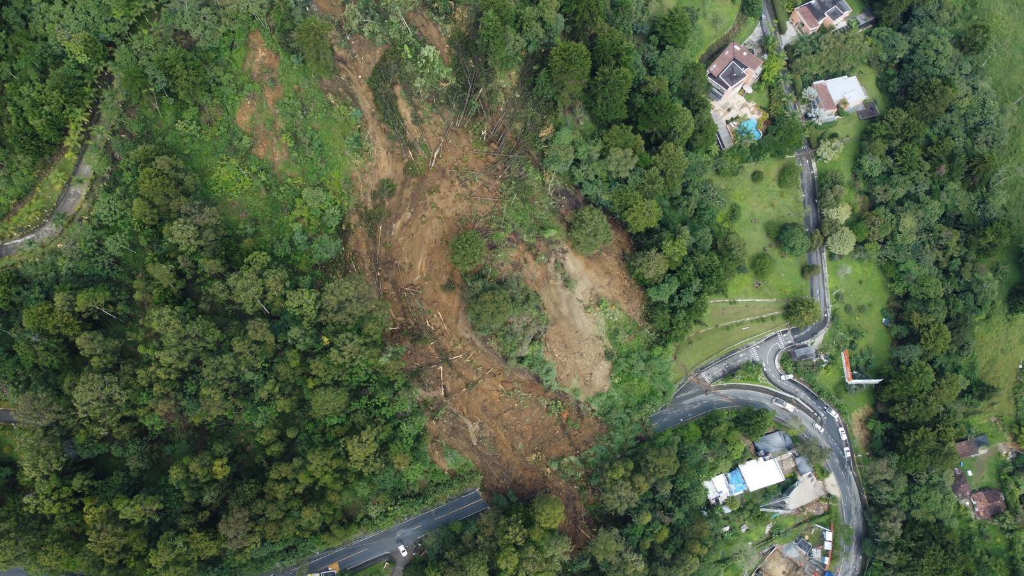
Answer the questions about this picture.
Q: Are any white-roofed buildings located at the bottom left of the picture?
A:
No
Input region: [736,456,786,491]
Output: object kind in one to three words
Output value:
building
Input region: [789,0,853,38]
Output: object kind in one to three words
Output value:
house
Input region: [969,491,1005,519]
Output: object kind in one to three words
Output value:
house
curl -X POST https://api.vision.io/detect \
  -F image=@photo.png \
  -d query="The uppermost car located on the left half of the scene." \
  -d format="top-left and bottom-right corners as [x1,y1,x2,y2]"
[394,540,409,558]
